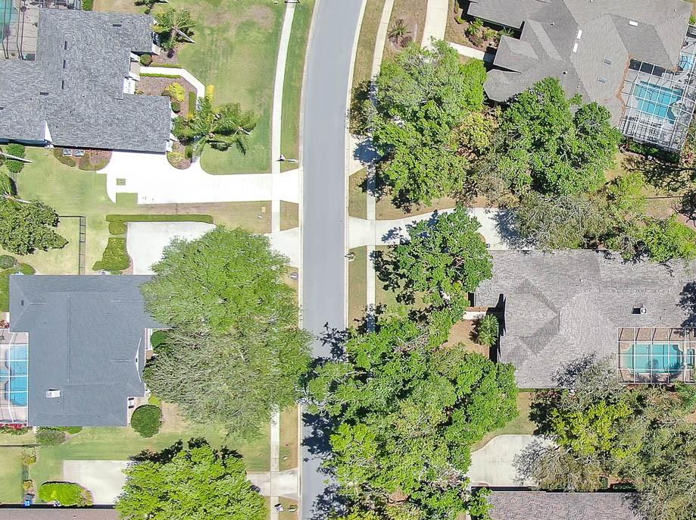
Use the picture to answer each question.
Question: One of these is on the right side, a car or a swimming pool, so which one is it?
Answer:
swimming pool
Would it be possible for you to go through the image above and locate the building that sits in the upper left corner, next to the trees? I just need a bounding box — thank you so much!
[0,13,176,154]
